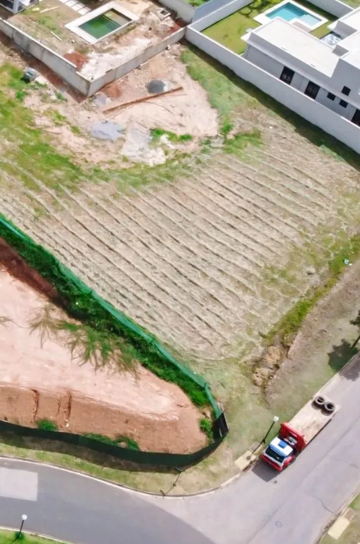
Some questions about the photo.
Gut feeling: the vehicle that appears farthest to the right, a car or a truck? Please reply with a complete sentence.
Looking closely, the vehicle that appears farthest to the right is a truck.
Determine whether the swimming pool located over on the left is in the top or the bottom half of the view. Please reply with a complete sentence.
The swimming pool located over on the left is in the top half of the image.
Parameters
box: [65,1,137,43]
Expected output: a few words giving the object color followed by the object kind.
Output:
white swimming pool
